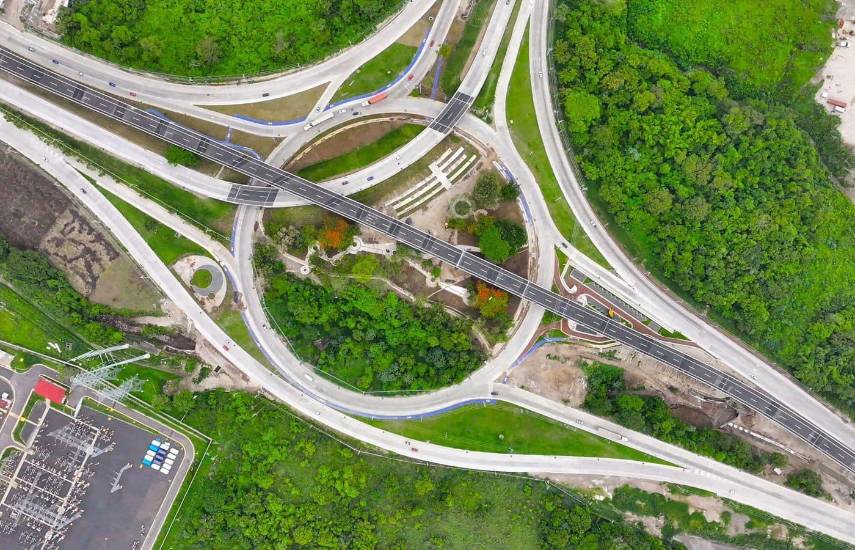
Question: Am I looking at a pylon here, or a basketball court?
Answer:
pylon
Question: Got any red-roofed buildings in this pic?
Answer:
Yes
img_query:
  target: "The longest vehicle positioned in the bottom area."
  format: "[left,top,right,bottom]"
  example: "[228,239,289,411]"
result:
[600,427,626,440]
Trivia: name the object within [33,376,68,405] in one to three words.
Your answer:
building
